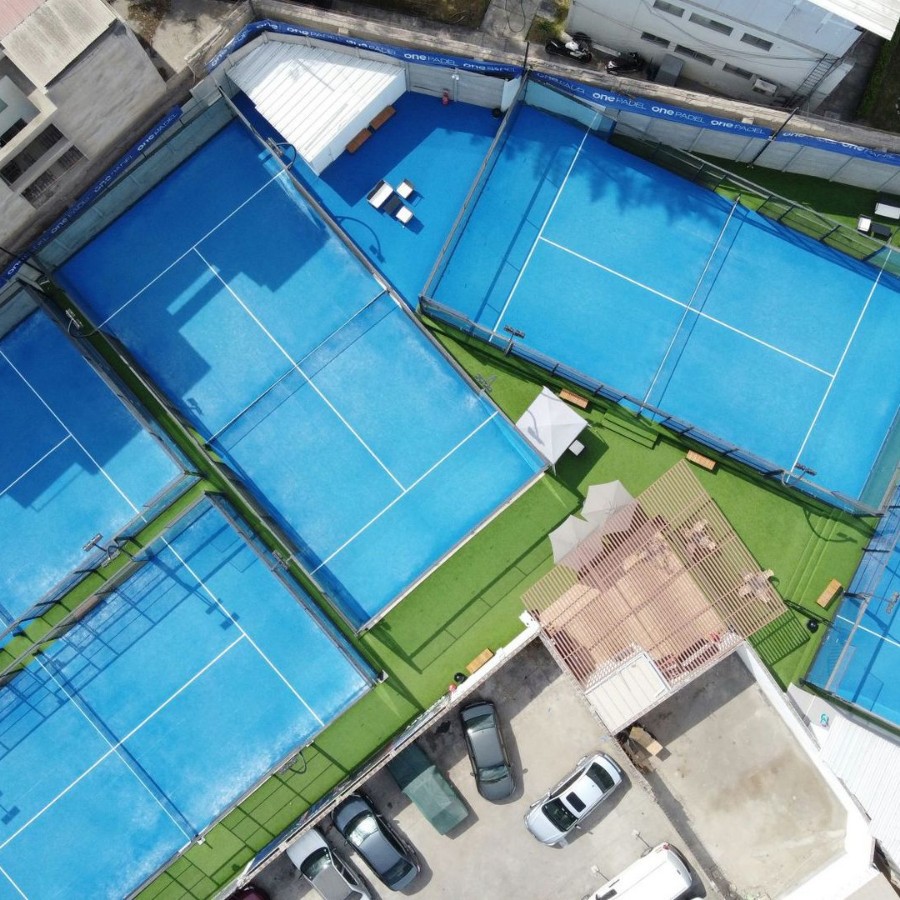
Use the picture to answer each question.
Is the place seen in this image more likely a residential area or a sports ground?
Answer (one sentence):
What you see here is a sports ground.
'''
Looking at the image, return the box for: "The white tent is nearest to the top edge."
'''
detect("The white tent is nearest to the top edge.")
[513,388,587,465]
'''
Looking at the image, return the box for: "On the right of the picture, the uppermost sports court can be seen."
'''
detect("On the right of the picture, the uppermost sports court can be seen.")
[422,71,900,513]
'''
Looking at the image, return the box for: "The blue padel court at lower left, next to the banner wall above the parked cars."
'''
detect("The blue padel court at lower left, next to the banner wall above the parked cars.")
[0,497,379,900]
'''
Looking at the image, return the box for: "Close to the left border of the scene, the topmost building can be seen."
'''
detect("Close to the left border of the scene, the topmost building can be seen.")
[0,0,168,217]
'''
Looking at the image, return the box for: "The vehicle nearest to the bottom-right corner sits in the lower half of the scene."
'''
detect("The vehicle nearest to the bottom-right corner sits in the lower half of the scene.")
[594,848,697,900]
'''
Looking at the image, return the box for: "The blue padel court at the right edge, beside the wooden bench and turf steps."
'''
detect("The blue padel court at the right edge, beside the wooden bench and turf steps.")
[805,461,900,724]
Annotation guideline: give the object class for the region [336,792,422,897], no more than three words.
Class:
car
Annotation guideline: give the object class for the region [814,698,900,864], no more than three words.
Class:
building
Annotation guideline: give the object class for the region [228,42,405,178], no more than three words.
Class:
shed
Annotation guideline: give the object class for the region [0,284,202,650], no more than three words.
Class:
sports court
